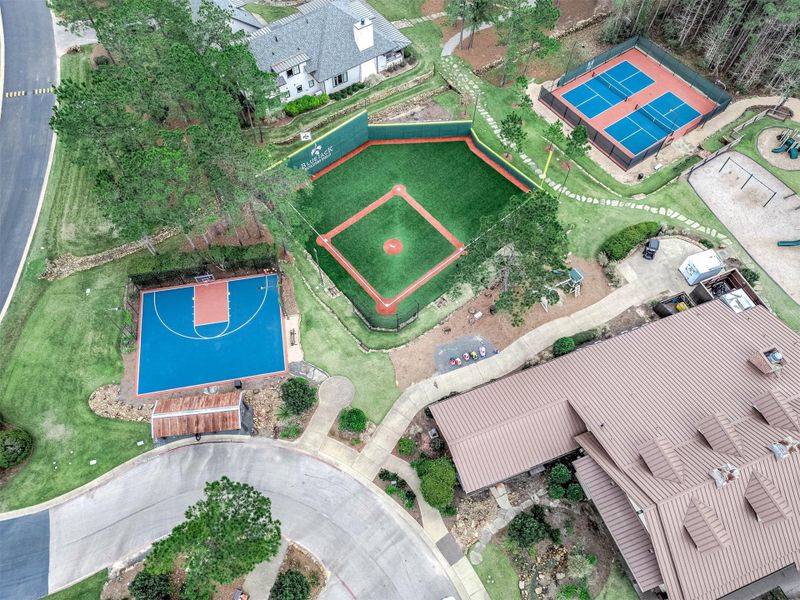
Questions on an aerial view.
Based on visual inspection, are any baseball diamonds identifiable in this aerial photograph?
Yes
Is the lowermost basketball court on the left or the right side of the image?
left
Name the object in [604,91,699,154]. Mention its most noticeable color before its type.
blue sports court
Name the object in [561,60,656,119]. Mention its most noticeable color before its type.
blue sports court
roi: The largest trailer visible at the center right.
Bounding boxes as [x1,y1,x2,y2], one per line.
[681,251,727,287]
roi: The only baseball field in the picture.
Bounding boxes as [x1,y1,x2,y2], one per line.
[270,139,555,328]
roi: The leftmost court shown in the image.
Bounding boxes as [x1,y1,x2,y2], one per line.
[134,270,290,399]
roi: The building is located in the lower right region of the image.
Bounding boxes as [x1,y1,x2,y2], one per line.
[428,299,800,600]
